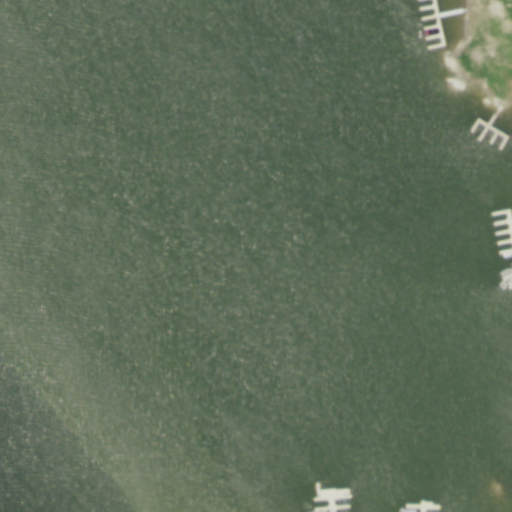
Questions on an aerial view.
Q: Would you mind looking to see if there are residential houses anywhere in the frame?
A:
No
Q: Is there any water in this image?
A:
Yes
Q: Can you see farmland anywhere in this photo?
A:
No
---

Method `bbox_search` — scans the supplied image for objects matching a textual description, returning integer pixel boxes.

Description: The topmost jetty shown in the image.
[418,0,466,50]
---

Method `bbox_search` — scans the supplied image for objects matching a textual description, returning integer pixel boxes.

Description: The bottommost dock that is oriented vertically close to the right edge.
[491,208,512,254]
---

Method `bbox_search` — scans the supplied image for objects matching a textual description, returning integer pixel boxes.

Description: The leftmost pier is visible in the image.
[314,482,352,512]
